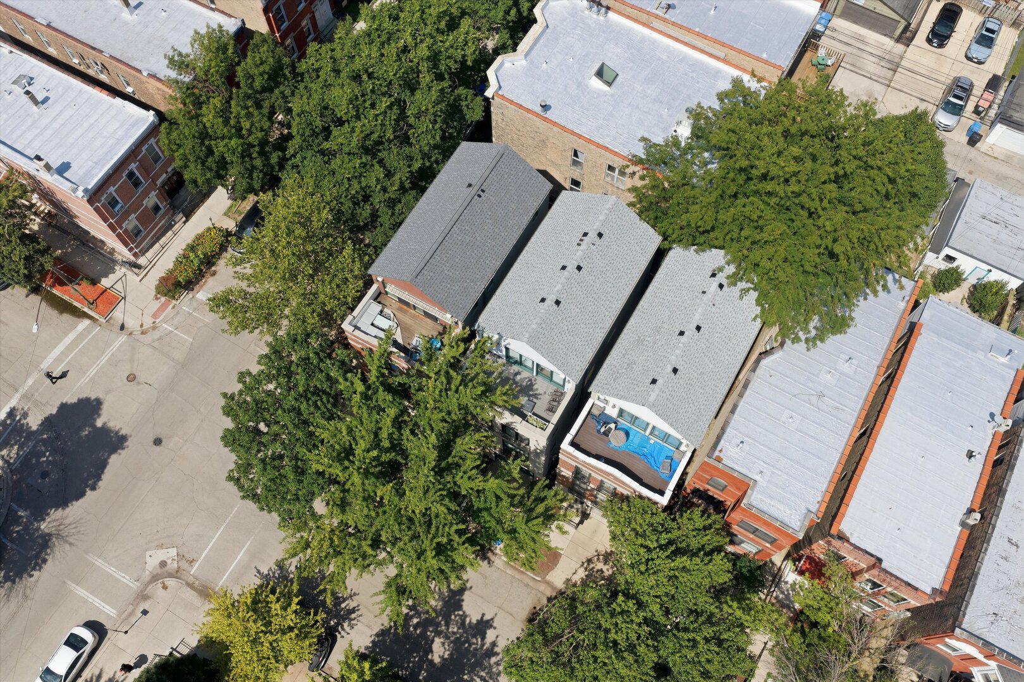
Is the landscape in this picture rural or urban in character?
urban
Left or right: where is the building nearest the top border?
right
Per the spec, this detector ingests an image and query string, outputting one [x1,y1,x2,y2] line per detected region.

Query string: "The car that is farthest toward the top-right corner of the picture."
[969,5,1011,60]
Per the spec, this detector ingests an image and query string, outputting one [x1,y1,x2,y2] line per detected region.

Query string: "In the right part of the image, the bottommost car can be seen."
[938,65,985,128]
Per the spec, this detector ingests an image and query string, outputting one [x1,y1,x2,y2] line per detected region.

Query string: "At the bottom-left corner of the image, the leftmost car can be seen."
[28,622,100,682]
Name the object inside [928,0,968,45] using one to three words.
car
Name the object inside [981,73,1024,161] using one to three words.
building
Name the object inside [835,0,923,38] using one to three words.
building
